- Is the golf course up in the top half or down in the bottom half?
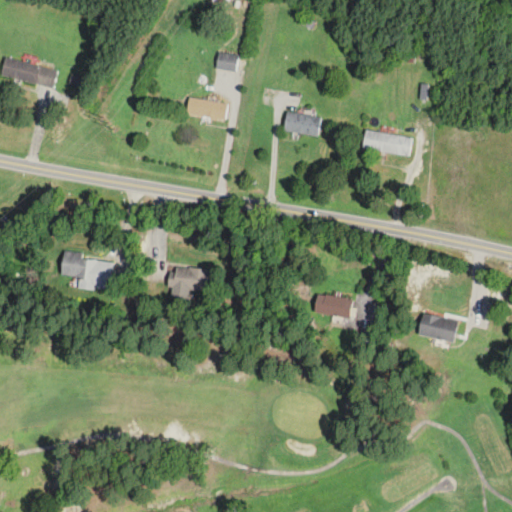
bottom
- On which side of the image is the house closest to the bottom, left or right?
right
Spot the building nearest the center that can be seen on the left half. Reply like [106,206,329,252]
[168,267,206,300]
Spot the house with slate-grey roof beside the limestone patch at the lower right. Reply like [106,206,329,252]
[419,313,459,342]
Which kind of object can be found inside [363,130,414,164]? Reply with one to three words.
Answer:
house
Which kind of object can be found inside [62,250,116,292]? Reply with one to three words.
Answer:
house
